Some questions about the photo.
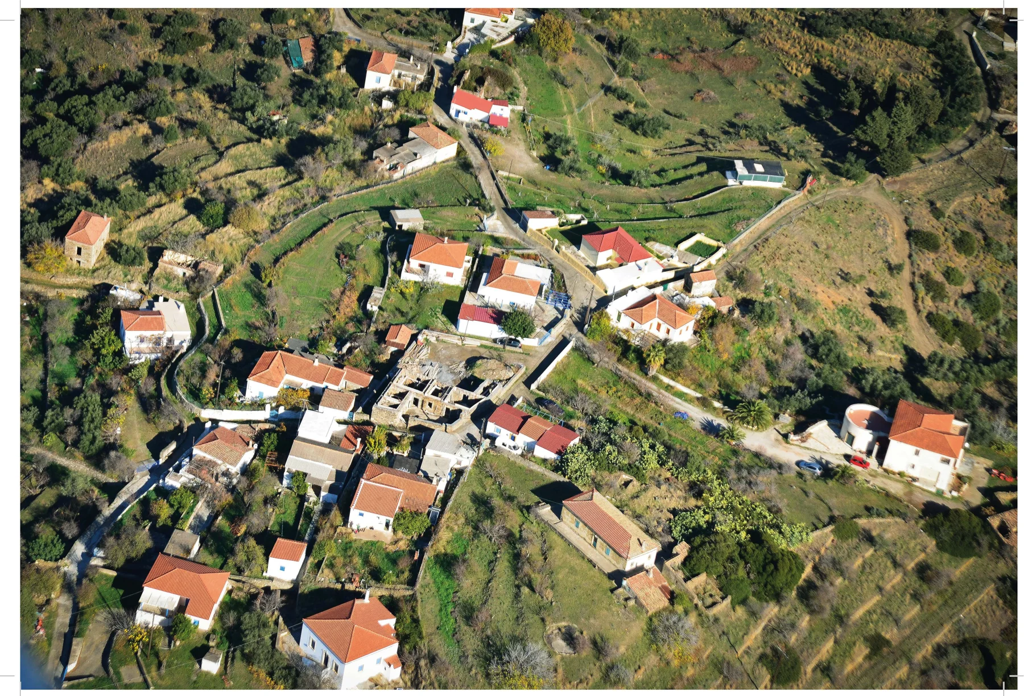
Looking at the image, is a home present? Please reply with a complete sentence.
Yes, I can see a home in this picture.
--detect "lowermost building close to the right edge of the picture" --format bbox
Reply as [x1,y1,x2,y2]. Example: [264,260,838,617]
[987,504,1024,557]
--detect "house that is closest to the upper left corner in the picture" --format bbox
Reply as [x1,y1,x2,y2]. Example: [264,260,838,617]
[65,211,120,268]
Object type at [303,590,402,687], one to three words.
house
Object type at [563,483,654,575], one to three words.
house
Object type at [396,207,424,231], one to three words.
shed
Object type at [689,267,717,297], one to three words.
barn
